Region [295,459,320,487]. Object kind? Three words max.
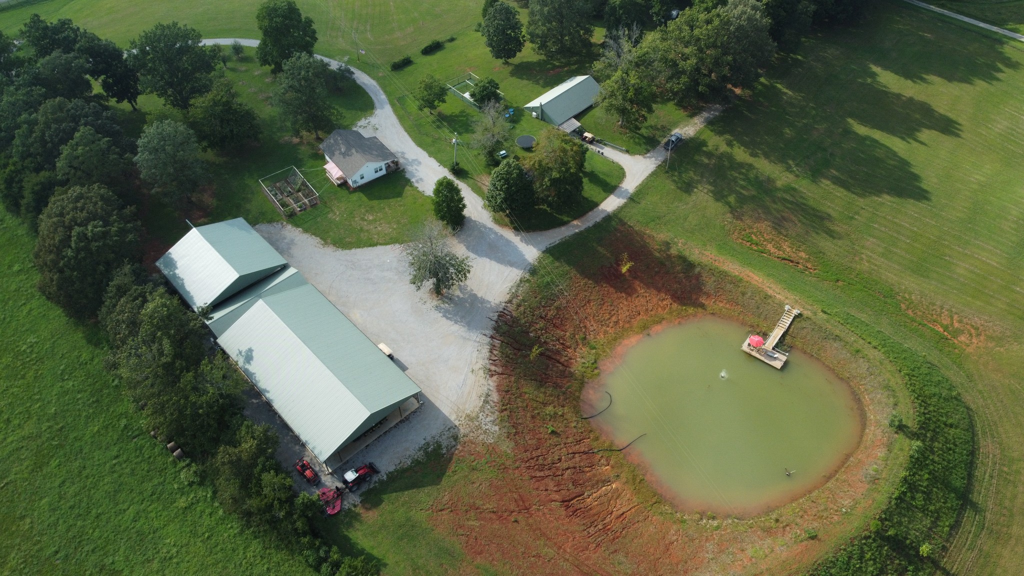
work vehicle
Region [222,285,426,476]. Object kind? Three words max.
barn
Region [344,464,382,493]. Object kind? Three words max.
work vehicle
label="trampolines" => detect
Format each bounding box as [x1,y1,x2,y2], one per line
[516,136,536,151]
